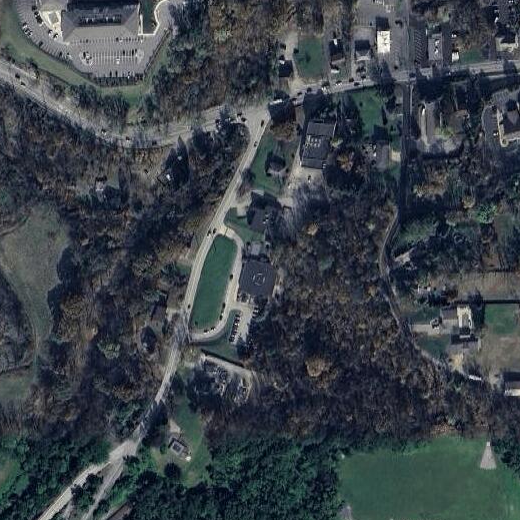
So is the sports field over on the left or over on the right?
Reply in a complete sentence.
The sports field sits on the right side.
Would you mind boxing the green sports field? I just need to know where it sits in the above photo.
[335,434,520,520]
